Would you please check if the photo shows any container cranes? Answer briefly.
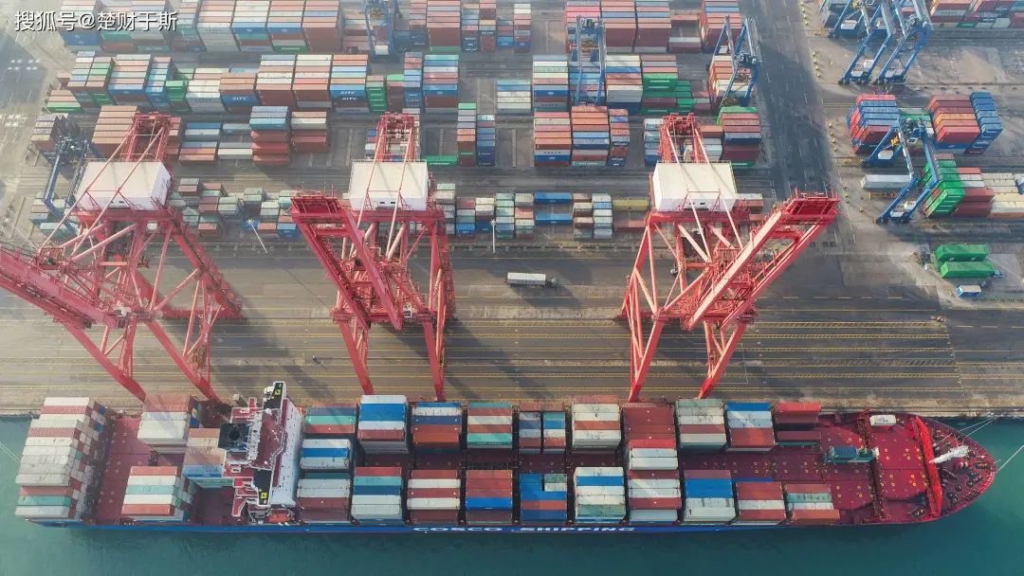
Yes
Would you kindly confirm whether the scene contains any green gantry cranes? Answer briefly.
No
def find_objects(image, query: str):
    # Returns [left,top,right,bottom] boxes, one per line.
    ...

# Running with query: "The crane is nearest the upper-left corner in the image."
[36,133,110,241]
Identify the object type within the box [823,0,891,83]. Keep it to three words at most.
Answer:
crane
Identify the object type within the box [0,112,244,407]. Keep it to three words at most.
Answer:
container crane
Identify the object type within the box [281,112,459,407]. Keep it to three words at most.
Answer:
container crane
